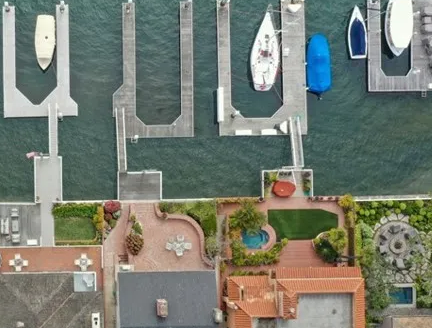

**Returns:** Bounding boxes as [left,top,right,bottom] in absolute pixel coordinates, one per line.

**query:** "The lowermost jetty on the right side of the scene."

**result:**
[258,169,316,201]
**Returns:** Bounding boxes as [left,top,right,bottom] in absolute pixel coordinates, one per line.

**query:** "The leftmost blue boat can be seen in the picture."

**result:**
[304,34,331,97]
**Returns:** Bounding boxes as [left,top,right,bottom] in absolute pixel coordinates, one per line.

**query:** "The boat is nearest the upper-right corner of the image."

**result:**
[385,0,415,57]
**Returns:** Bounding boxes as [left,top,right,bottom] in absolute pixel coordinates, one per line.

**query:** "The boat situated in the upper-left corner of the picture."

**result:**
[34,13,57,72]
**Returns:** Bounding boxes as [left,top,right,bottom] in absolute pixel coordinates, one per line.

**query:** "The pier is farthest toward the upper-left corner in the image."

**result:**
[2,0,78,118]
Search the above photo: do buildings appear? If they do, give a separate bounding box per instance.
[224,267,365,328]
[0,272,106,328]
[117,271,222,328]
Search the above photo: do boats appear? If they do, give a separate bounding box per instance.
[348,6,367,60]
[304,34,331,97]
[234,4,299,100]
[34,13,57,72]
[385,0,415,57]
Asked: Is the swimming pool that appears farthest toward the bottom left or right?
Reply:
right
